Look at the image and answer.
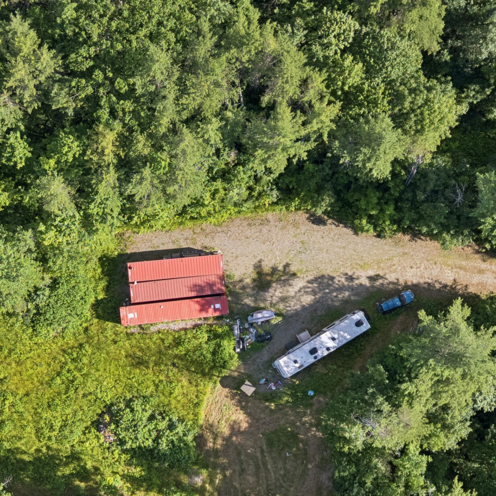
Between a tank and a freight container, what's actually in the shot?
freight container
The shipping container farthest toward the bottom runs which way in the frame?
horizontally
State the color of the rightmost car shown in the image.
blue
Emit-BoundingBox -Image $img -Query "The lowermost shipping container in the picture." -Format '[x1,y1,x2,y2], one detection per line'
[120,295,228,326]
